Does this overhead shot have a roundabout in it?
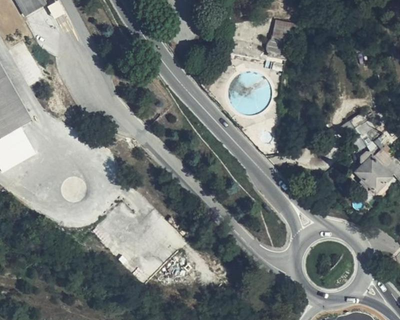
Yes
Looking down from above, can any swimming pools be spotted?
Yes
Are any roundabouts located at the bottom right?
Yes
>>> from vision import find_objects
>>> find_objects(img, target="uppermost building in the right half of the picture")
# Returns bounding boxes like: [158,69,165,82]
[266,18,296,54]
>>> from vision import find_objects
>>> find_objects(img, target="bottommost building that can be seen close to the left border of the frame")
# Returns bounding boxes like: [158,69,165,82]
[0,126,36,173]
